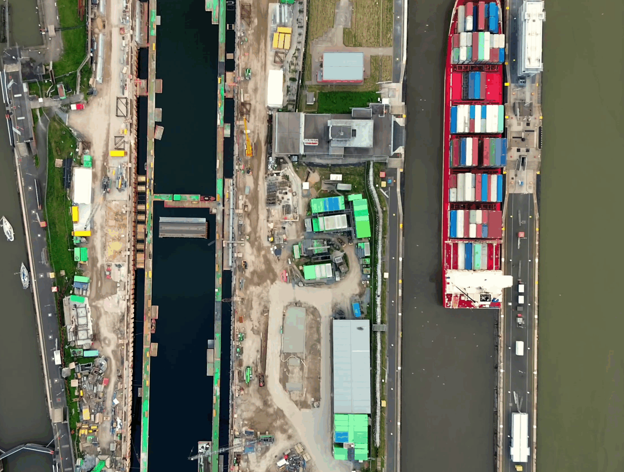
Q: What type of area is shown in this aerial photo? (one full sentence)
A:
It's a port.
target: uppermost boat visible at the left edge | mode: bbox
[0,216,13,242]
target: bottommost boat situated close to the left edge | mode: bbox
[12,264,29,290]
